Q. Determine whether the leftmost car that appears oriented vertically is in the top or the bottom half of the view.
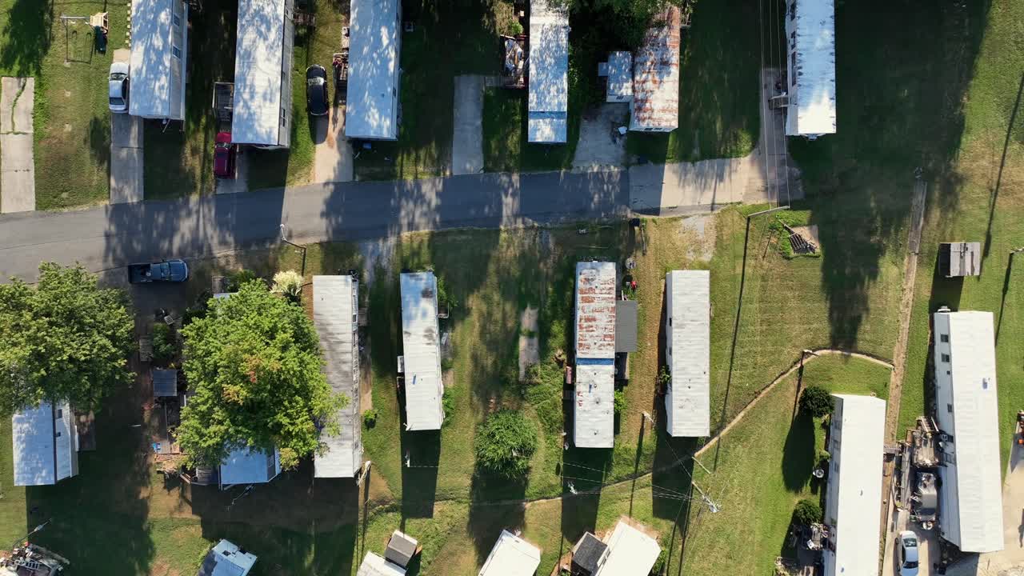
top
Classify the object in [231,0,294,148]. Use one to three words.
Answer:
house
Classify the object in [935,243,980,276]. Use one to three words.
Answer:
shed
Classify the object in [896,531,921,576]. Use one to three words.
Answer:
car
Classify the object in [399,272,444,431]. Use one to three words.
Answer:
house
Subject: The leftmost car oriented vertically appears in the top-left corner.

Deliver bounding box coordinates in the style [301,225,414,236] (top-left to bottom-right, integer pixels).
[107,64,129,114]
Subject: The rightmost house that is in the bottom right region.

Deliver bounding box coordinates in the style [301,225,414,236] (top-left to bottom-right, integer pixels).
[930,297,1004,553]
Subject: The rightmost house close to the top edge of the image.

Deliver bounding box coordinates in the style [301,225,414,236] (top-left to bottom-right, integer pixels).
[784,0,836,152]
